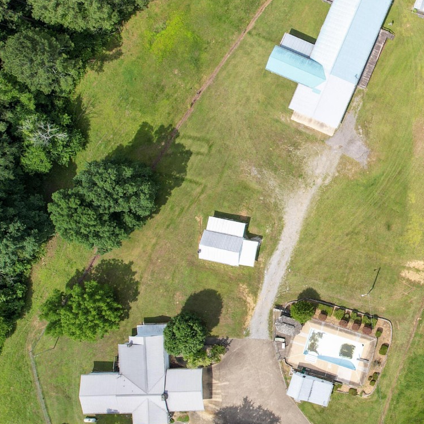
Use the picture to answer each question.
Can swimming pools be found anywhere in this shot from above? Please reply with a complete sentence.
Yes, a swimming pool appears in the view.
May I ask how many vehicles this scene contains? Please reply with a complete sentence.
There are no vehicles in this view.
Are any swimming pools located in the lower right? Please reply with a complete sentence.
Yes, there is a swimming pool in the lower right.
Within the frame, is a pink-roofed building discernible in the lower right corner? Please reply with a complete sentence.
No, looking in the lower right corner, there is no pink-roofed building.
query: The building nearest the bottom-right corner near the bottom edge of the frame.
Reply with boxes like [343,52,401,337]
[289,371,334,406]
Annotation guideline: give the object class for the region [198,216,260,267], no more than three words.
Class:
shed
